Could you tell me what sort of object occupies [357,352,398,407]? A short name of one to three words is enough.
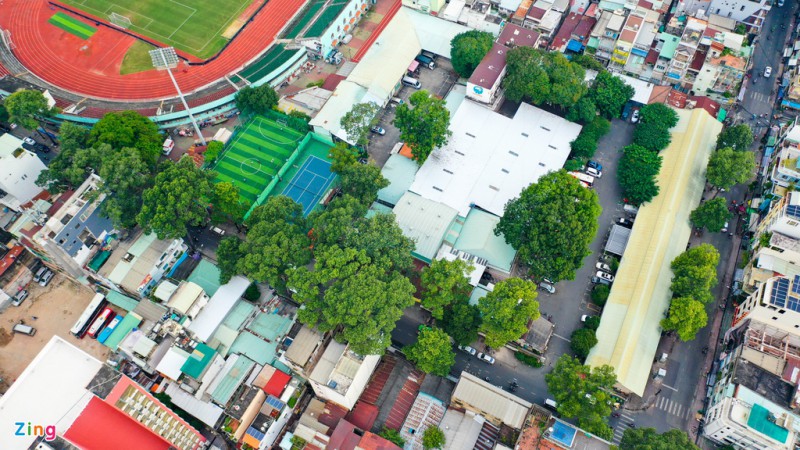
shed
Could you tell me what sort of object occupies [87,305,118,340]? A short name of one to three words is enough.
bus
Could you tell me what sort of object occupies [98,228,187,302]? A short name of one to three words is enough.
house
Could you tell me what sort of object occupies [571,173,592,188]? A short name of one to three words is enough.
vehicle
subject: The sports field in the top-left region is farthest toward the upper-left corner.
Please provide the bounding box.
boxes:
[71,0,262,75]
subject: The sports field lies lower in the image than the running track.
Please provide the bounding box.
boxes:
[195,116,309,215]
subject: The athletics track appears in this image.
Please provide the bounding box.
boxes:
[3,0,308,100]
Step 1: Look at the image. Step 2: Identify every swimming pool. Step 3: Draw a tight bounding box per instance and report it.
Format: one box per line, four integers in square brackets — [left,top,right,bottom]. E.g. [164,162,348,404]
[545,417,577,449]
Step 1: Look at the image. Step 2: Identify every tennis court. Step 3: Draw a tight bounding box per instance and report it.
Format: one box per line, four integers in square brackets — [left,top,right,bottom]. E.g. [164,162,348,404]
[251,140,356,234]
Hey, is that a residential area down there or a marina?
residential area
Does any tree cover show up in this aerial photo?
Yes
